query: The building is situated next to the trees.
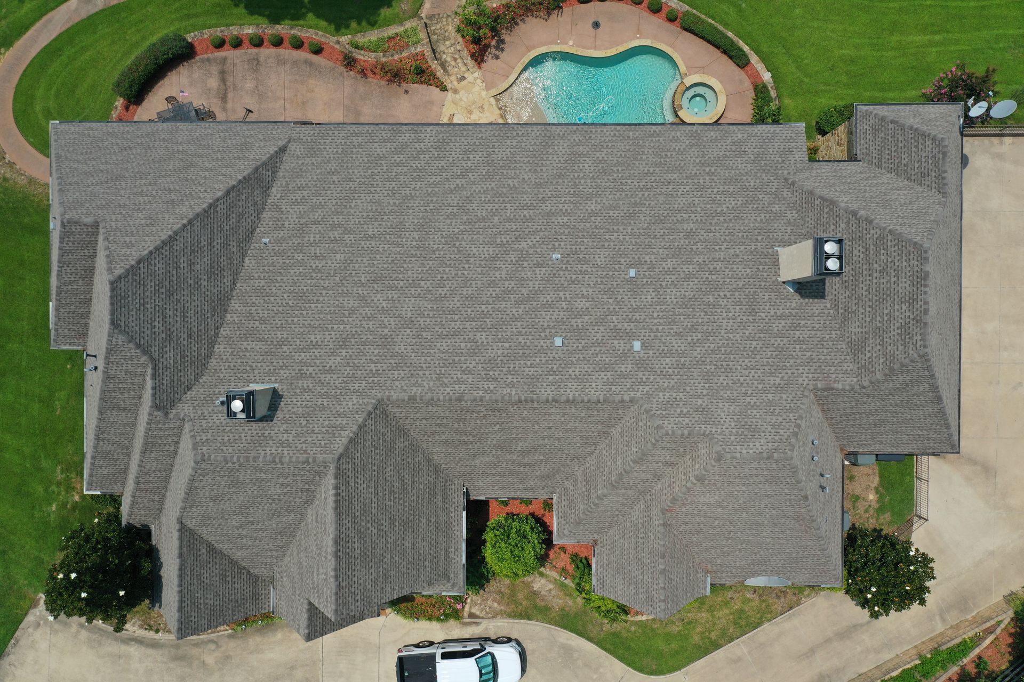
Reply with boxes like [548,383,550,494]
[46,101,964,643]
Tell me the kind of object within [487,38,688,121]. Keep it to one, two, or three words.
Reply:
swimming pool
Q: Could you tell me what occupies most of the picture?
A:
buildings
